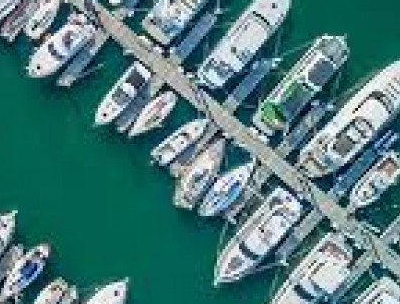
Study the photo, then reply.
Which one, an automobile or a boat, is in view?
boat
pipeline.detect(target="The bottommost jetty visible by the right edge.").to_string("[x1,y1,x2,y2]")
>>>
[328,245,381,304]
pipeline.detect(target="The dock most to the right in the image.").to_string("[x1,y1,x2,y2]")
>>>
[374,212,400,245]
